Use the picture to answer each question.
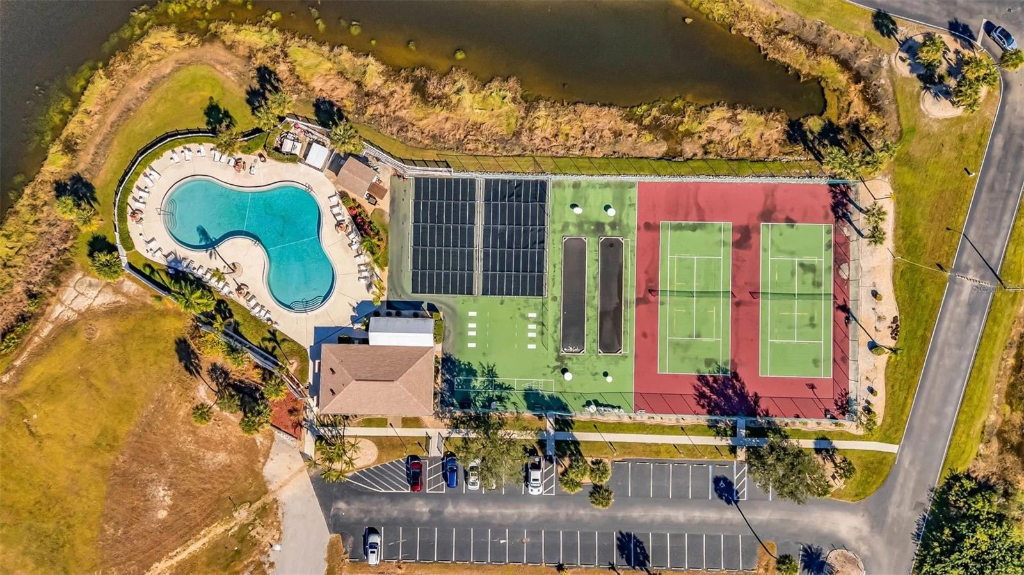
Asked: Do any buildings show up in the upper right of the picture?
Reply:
No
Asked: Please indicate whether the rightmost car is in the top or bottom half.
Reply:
top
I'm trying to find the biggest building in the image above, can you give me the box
[319,343,434,417]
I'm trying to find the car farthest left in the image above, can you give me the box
[365,534,381,567]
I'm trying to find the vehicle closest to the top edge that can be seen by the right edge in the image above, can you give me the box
[988,24,1018,51]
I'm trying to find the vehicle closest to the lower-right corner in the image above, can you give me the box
[528,456,544,496]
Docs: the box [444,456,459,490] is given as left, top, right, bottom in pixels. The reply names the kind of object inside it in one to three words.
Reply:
car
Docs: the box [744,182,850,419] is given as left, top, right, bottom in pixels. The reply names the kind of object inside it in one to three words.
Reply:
tennis court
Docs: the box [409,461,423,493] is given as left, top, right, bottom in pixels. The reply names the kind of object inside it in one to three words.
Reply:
car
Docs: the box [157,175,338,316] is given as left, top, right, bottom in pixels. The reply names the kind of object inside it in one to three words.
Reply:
swimming pool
